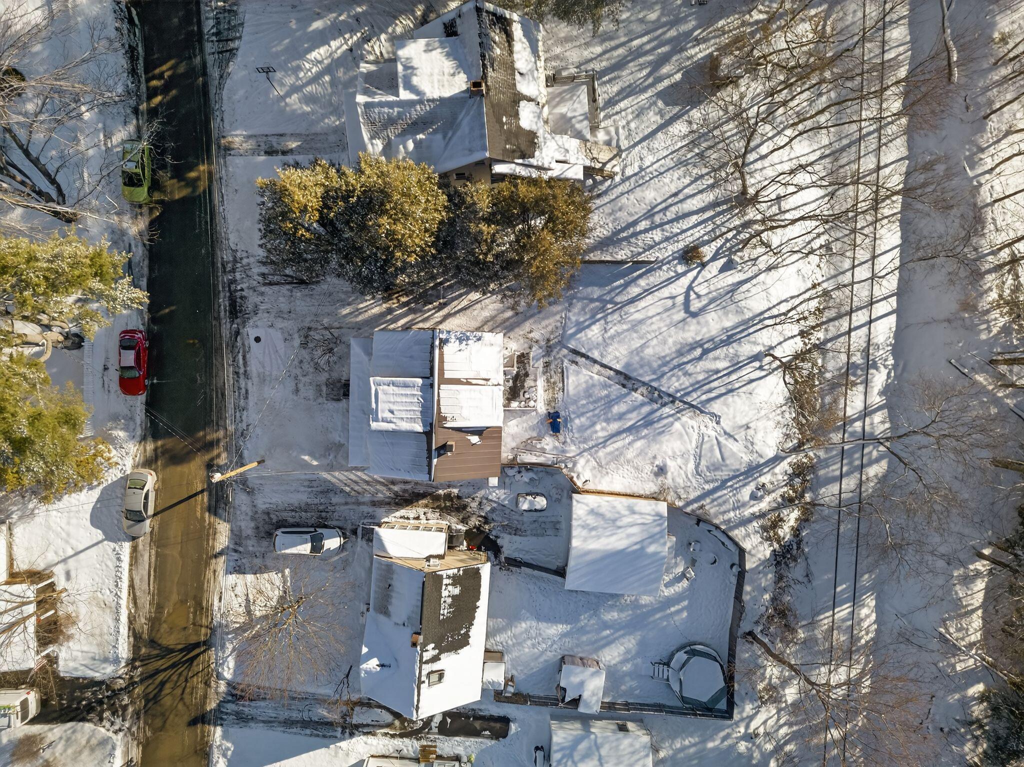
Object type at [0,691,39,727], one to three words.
van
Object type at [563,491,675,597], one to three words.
building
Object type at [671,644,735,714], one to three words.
swimming pool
